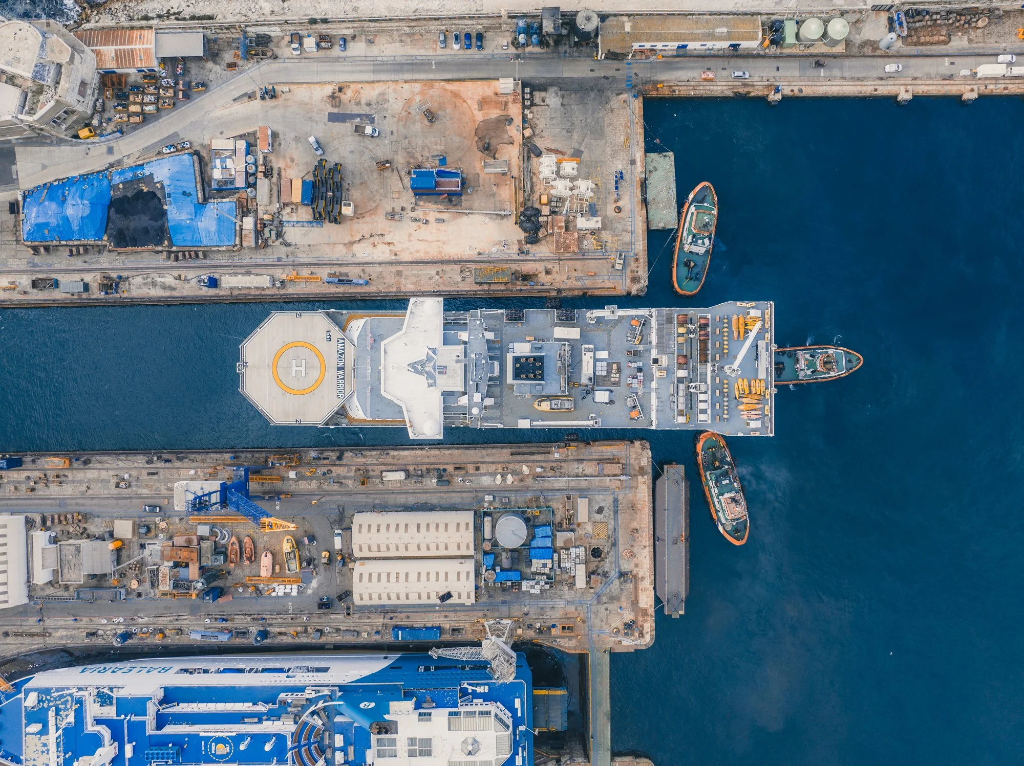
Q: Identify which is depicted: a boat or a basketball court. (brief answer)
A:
boat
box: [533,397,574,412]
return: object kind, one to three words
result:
boat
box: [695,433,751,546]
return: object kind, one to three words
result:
boat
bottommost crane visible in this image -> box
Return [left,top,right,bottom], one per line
[427,617,527,684]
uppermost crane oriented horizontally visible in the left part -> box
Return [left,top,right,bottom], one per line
[174,465,325,533]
